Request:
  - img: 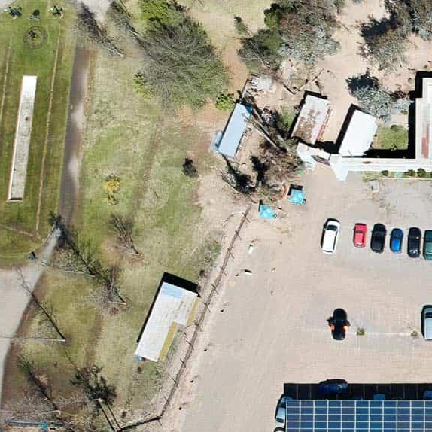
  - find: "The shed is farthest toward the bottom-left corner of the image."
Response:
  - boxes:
[137,282,205,361]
